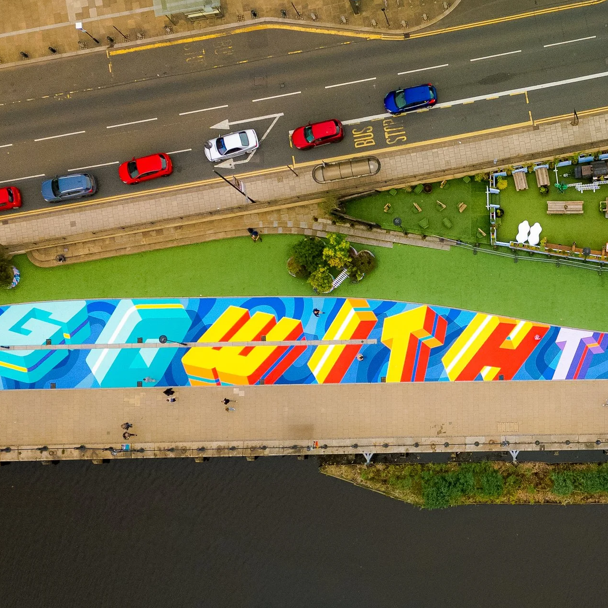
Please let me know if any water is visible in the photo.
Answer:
Yes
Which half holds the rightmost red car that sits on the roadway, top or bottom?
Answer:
top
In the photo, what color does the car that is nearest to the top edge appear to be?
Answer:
blue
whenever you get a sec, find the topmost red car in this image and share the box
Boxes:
[293,120,345,151]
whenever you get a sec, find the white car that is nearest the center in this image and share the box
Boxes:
[207,130,260,160]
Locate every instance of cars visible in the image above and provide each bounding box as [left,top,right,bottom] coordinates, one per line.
[207,130,260,160]
[0,187,26,211]
[43,173,99,204]
[293,120,345,151]
[385,84,436,116]
[120,154,174,184]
